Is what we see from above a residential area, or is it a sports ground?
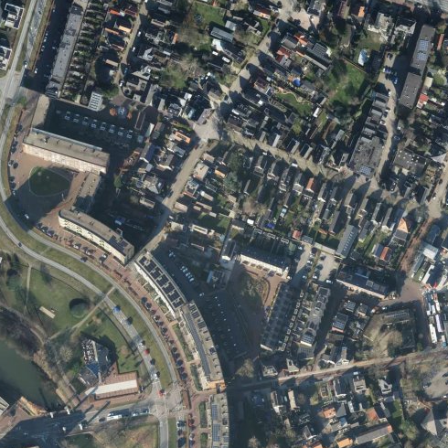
residential area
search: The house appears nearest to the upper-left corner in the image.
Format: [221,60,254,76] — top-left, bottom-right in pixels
[1,2,24,26]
